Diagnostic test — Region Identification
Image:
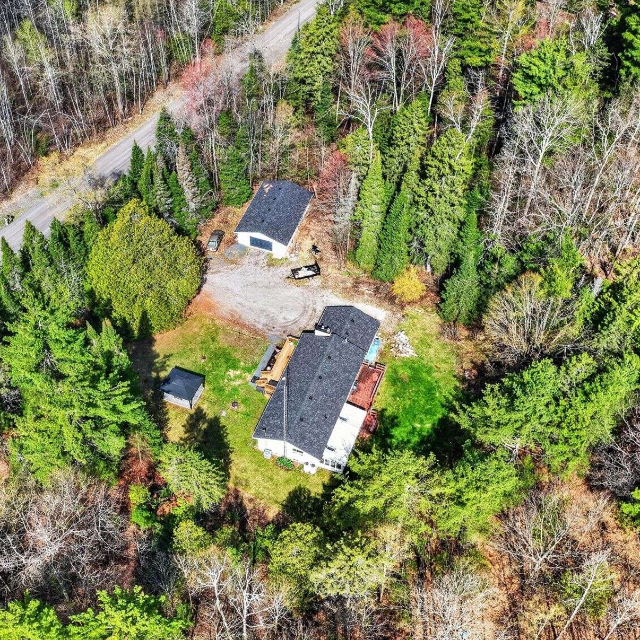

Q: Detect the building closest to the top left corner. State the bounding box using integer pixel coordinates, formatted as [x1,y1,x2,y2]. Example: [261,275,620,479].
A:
[235,178,317,260]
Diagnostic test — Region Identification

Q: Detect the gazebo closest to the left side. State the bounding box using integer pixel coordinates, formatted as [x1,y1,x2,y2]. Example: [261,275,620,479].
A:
[158,371,204,415]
